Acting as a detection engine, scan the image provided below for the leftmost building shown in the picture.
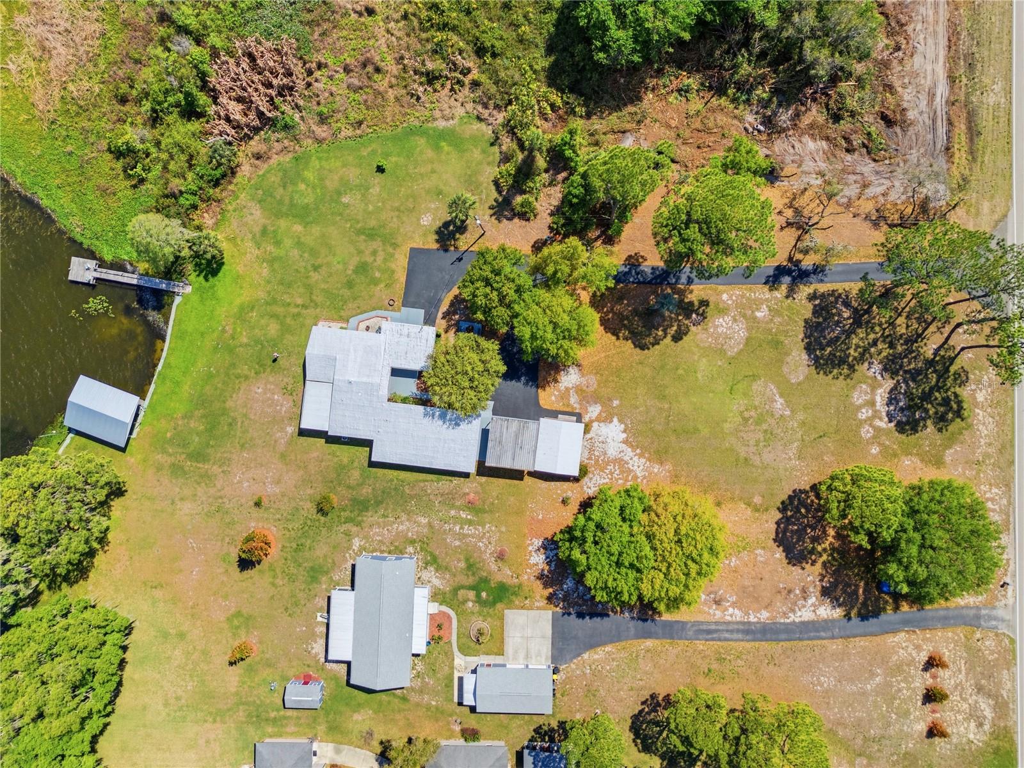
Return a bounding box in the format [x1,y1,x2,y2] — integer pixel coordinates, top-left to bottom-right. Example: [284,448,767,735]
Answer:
[63,375,147,448]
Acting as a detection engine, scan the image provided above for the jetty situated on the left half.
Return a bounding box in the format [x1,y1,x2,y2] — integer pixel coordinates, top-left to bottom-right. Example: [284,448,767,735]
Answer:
[68,257,191,296]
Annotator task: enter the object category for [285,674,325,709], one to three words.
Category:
shed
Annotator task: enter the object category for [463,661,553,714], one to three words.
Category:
building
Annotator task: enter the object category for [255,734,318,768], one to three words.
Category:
house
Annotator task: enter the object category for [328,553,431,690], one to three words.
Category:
house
